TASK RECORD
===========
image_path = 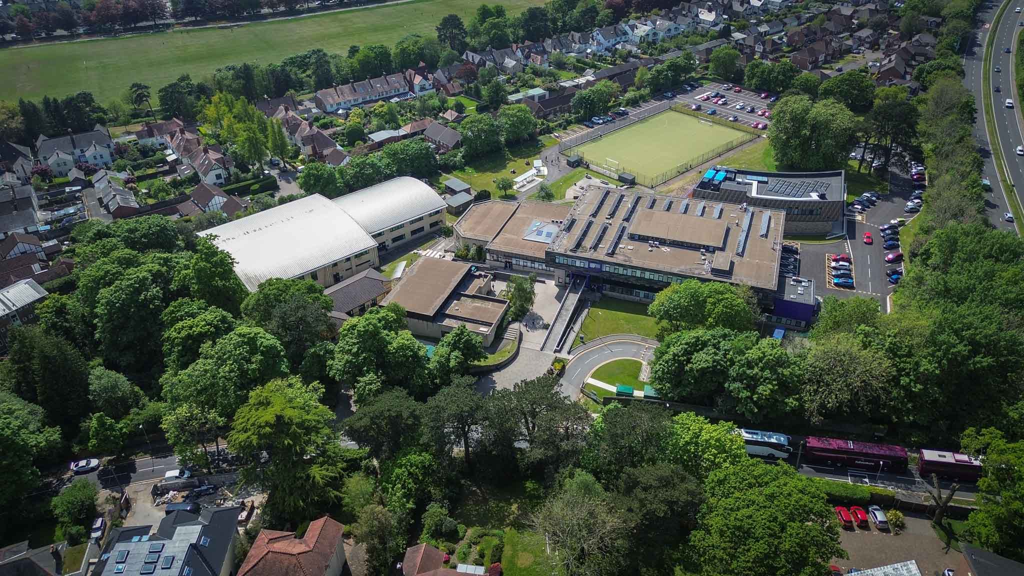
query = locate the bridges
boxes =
[542,281,584,354]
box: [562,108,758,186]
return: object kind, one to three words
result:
sports field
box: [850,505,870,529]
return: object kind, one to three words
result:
car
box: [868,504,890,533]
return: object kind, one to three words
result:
car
